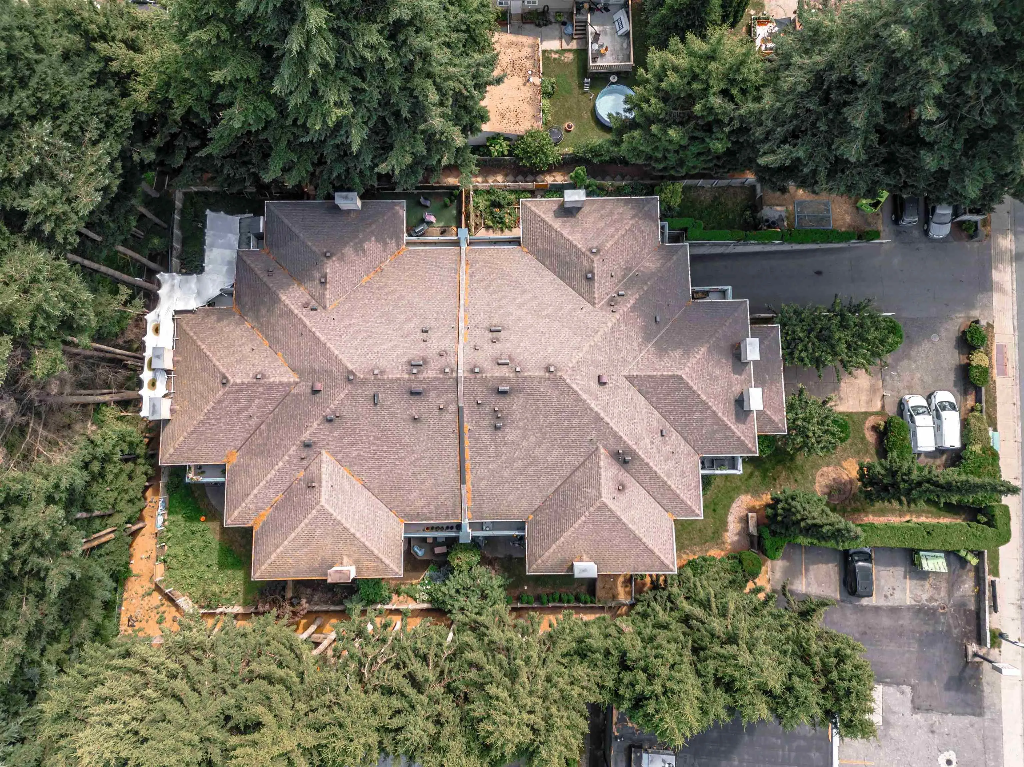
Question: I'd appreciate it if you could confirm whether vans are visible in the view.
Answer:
Yes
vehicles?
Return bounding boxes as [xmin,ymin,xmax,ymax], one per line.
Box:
[921,179,956,240]
[841,546,873,597]
[927,391,962,449]
[890,168,923,227]
[899,395,940,452]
